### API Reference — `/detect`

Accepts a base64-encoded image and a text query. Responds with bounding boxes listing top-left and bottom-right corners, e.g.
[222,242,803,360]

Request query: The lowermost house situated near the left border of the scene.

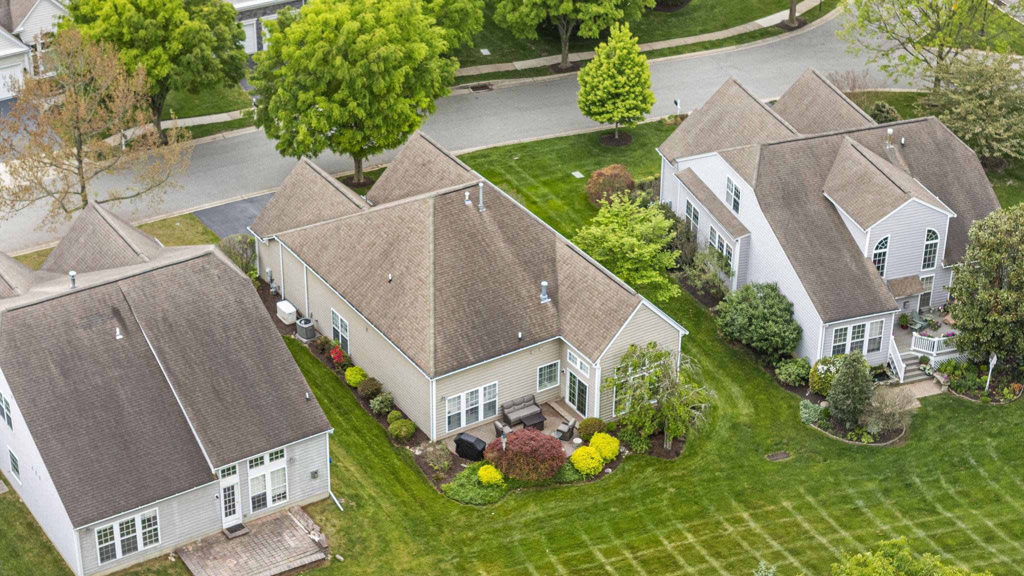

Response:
[0,201,335,576]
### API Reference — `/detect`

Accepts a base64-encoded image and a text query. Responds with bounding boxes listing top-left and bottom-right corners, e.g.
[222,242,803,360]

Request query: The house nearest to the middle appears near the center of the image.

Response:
[247,130,689,438]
